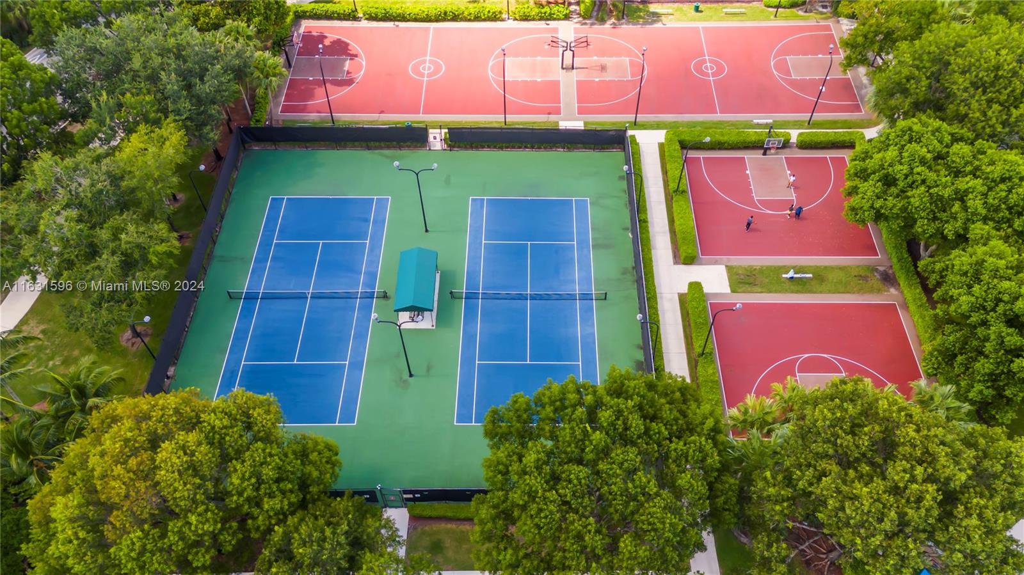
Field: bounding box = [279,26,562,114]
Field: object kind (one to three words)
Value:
basketball court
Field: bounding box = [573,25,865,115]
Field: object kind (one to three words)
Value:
basketball court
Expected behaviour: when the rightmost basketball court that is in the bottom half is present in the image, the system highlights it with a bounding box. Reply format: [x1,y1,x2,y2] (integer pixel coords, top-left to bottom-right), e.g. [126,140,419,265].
[709,301,944,440]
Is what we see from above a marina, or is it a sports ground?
sports ground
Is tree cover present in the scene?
Yes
